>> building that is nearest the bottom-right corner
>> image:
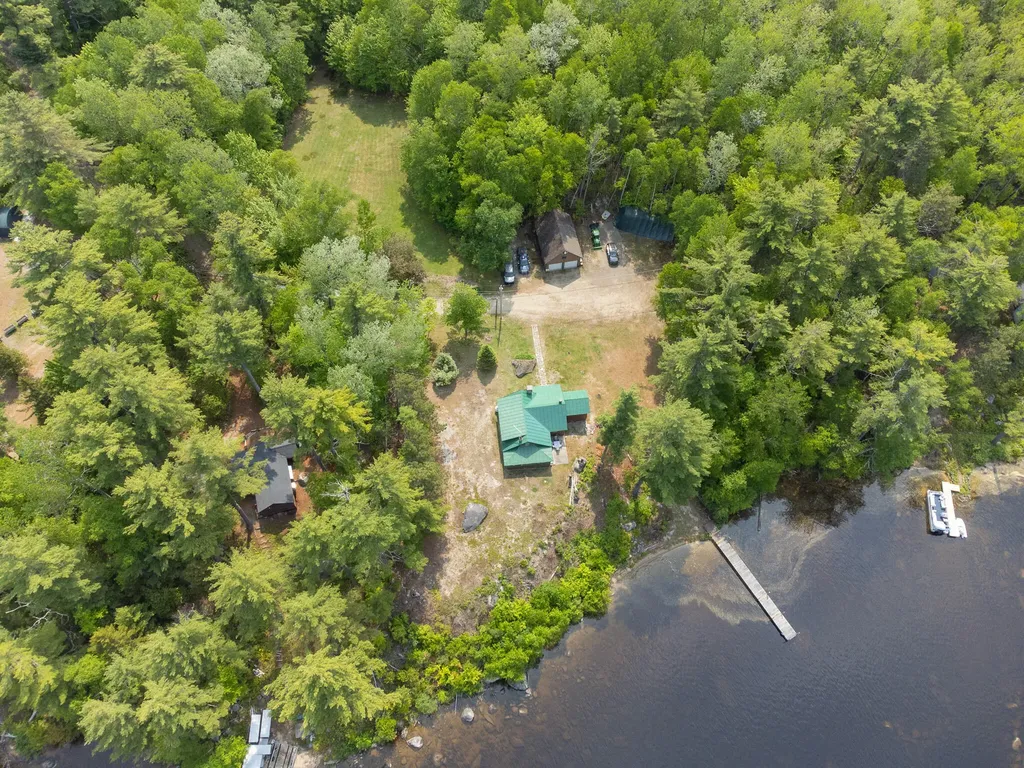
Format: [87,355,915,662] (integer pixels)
[497,384,591,469]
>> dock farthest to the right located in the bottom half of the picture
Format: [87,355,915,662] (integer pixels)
[942,482,960,538]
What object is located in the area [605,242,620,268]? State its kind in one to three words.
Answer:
vehicle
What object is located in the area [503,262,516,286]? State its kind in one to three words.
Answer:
vehicle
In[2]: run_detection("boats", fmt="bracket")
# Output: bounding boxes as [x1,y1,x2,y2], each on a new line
[926,488,949,537]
